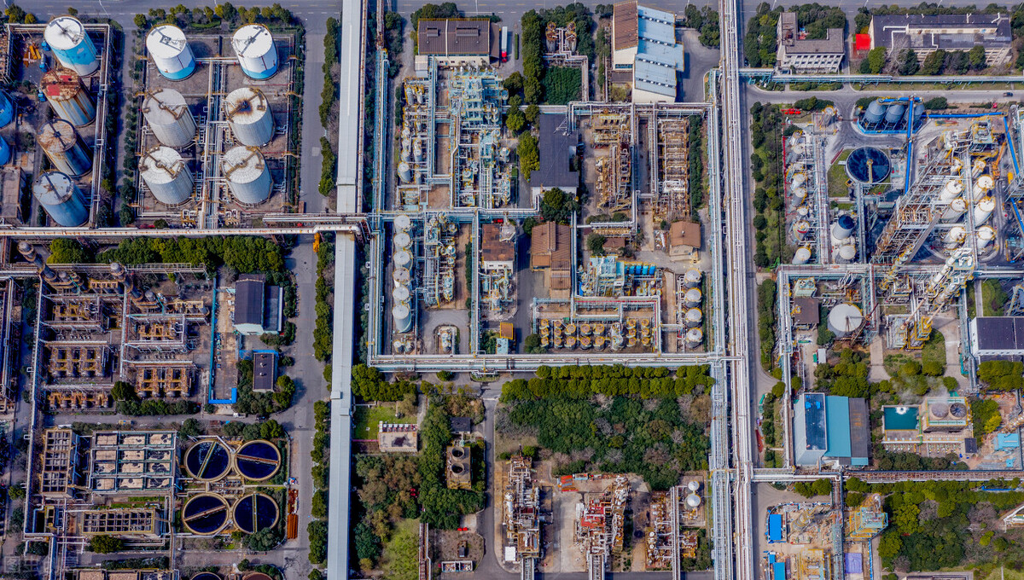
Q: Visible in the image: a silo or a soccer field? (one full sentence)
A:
The image shows a silo.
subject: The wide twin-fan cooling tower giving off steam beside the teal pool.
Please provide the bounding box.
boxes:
[921,396,968,432]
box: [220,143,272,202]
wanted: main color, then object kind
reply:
white storage tank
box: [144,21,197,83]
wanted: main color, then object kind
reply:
white storage tank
